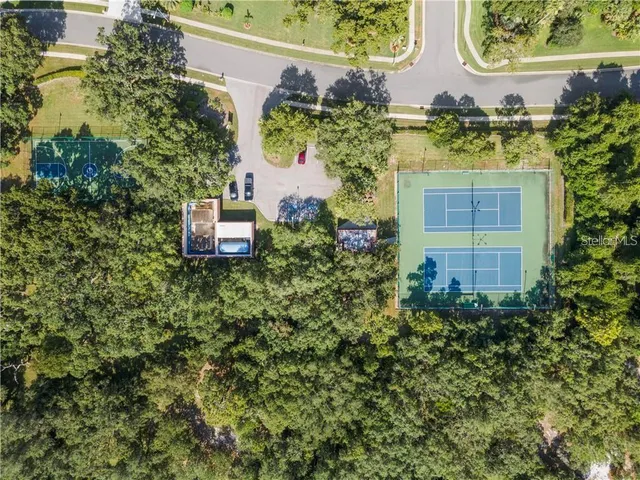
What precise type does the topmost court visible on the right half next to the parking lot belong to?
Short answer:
tennis court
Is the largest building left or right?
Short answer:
left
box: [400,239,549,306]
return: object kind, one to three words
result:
tennis court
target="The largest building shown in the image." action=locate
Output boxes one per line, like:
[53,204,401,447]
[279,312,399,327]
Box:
[181,201,252,256]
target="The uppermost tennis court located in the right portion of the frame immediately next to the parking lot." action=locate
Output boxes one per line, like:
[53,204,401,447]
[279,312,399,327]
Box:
[400,174,549,239]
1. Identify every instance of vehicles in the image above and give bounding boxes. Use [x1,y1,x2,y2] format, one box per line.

[229,182,238,201]
[298,148,306,165]
[244,174,253,199]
